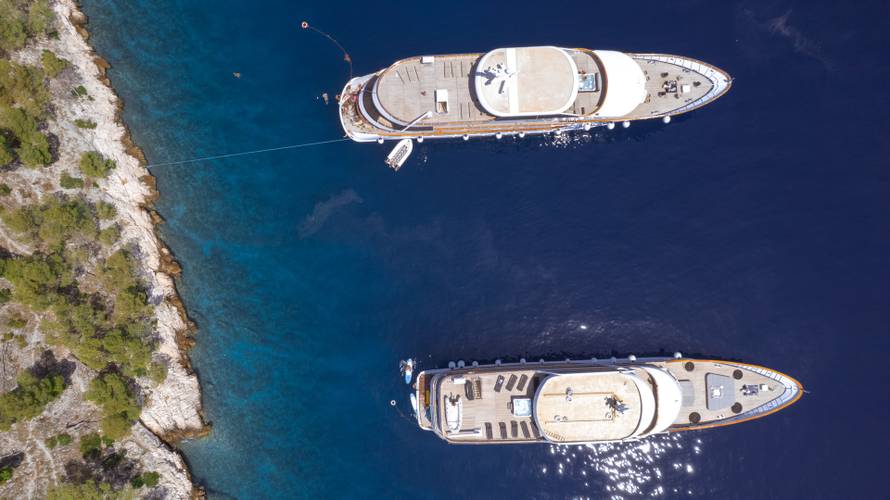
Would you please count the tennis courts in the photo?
0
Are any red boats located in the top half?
No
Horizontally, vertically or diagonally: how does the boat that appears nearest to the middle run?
diagonally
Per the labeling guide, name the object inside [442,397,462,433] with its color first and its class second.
white boat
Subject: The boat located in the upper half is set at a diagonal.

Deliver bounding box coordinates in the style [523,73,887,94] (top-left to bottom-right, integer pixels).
[387,140,415,171]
